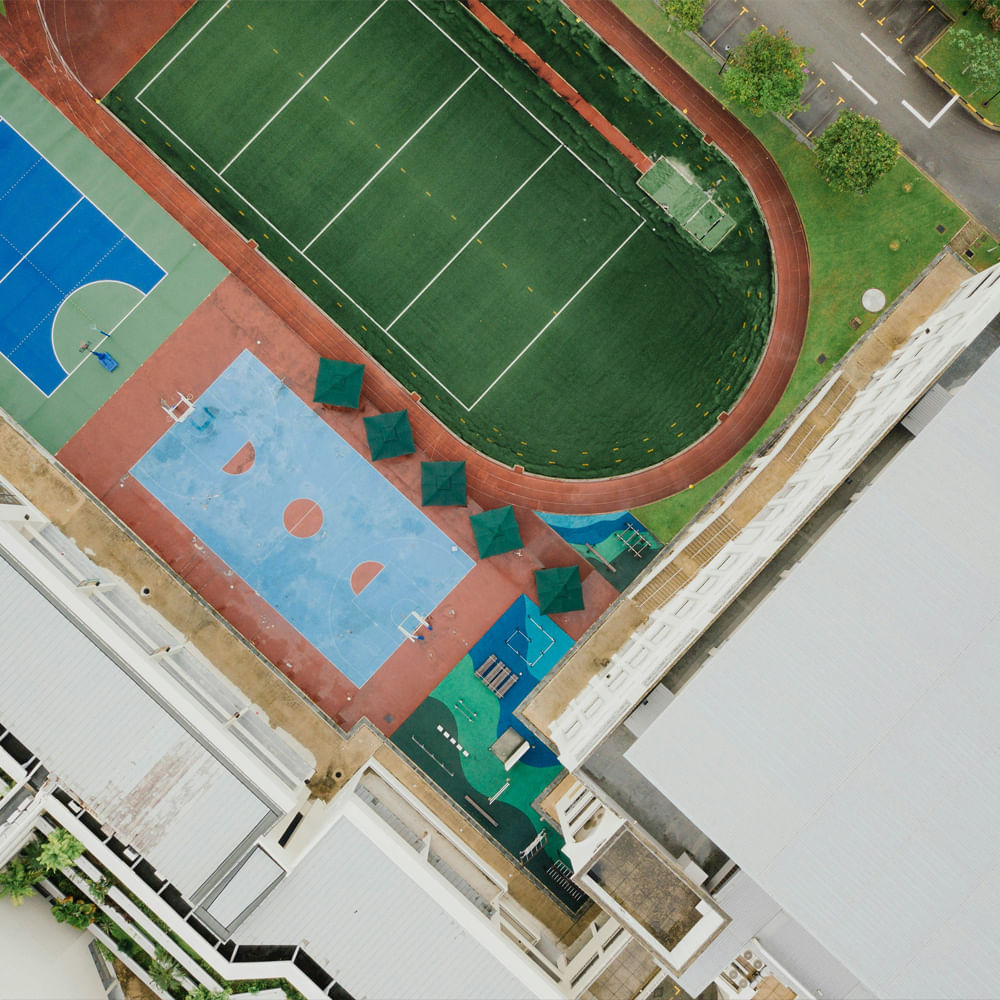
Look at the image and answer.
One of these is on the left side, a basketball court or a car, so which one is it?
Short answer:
basketball court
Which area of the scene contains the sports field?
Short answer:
top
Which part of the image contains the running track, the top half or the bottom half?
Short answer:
top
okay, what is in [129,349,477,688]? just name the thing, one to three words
basketball court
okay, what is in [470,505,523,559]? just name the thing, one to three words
tent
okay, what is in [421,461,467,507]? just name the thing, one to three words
tent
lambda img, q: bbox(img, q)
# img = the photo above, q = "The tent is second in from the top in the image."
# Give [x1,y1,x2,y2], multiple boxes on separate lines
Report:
[363,409,416,461]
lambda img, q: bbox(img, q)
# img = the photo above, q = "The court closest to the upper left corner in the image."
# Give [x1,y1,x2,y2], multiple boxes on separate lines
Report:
[0,57,229,456]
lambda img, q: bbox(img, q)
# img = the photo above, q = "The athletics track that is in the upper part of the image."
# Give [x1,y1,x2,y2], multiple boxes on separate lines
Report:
[0,0,811,516]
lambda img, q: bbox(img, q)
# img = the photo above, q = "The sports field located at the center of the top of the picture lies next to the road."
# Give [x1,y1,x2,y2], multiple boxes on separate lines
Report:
[104,0,775,479]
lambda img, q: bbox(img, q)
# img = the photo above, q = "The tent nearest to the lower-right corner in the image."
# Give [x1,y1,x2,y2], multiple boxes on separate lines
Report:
[534,565,584,615]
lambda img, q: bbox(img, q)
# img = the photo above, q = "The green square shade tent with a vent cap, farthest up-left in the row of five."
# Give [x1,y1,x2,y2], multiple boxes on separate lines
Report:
[313,357,367,409]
